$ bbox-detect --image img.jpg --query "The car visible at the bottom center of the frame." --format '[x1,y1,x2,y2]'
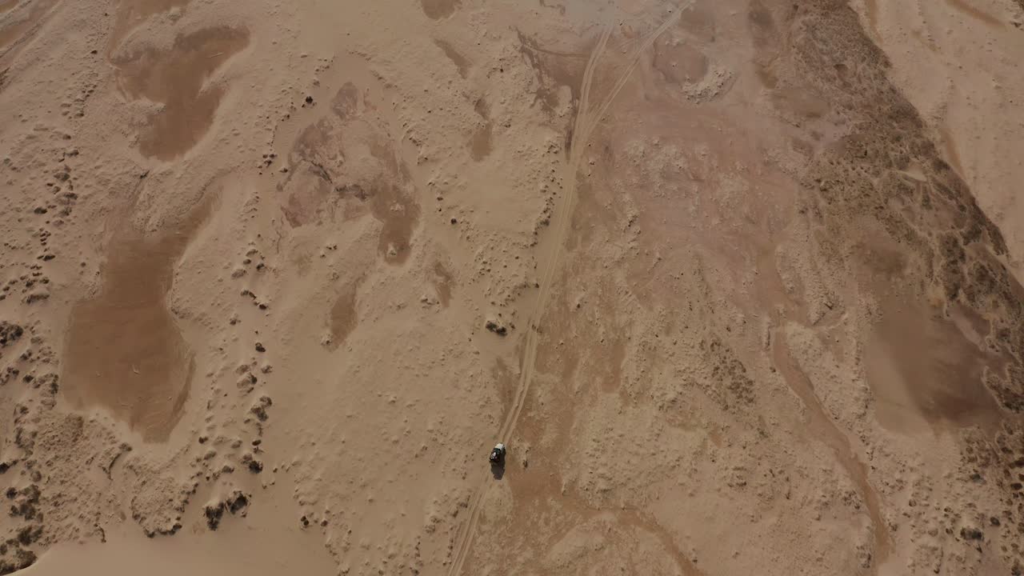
[489,443,505,464]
